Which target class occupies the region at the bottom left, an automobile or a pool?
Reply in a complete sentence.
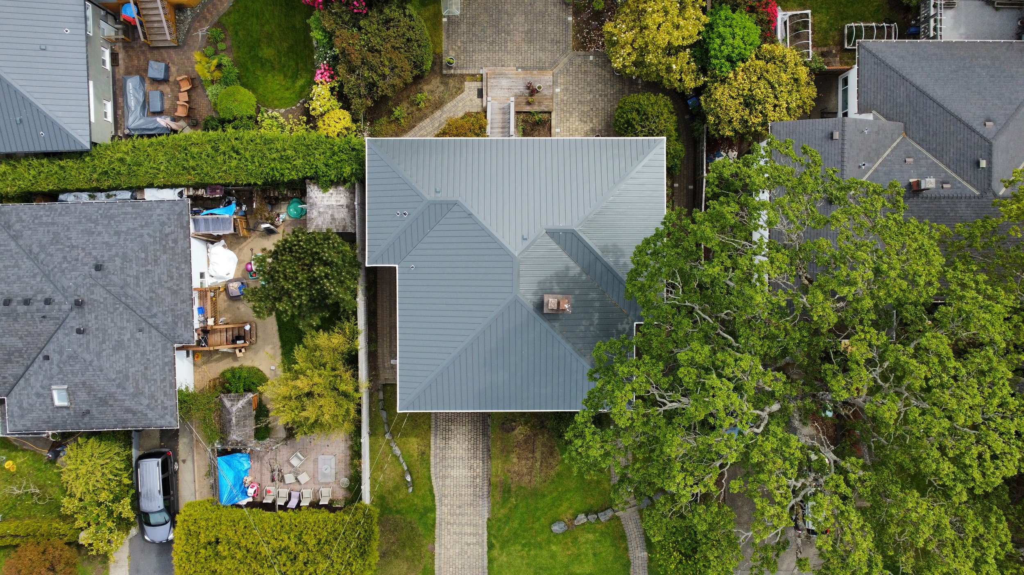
The feature located at the bottom left is an automobile.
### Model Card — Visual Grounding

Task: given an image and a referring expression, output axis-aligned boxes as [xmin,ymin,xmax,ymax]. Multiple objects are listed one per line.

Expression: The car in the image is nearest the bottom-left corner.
[134,446,184,544]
